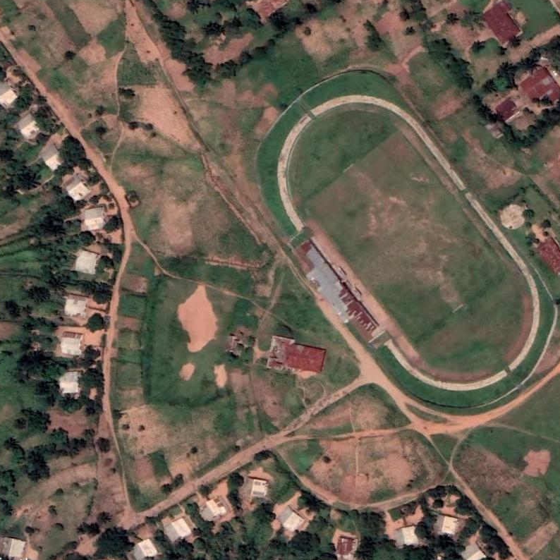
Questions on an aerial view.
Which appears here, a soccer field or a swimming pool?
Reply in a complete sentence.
There is a soccer field in the scene.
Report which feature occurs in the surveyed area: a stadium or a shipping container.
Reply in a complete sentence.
Visible in the photo is a stadium.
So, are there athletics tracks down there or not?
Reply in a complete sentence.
Yes, there's an athletics track here.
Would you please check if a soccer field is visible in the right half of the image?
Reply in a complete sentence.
Yes, looking in the right half of the image, one can make out a soccer field.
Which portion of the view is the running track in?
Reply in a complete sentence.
The running track sits in the right section of the image.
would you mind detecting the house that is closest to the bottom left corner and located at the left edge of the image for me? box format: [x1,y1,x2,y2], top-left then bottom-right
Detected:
[1,539,26,558]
